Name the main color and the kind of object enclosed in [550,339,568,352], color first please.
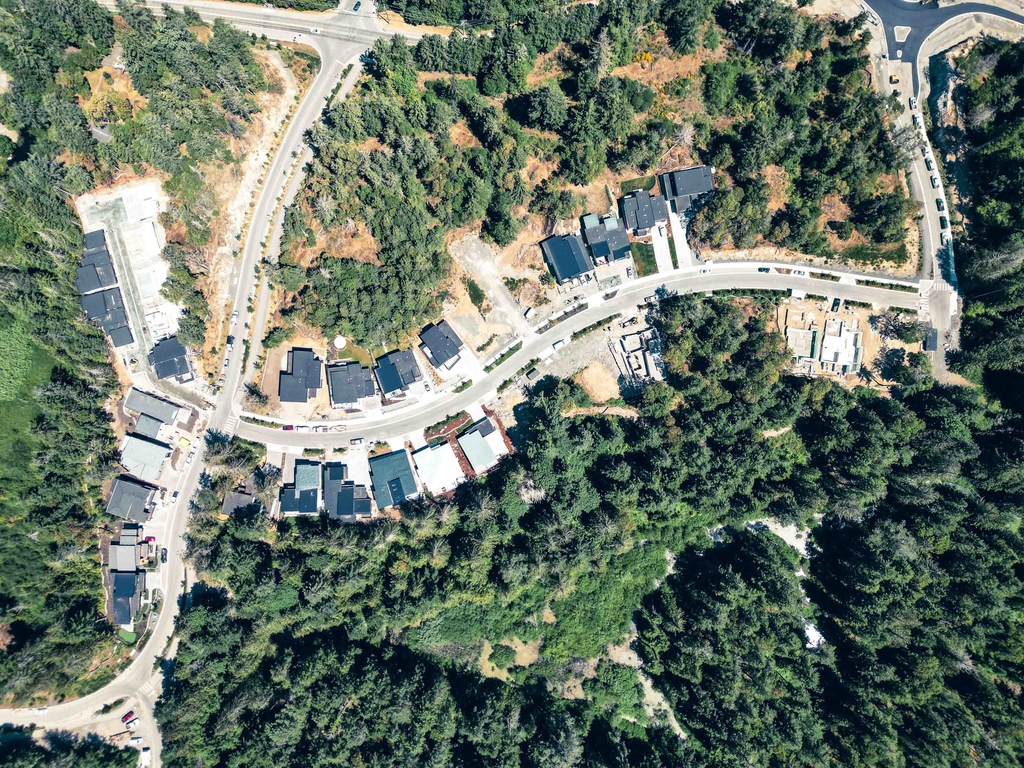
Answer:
white vehicle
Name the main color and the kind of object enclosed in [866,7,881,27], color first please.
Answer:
white vehicle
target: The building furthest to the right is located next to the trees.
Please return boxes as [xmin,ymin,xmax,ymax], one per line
[920,328,937,351]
